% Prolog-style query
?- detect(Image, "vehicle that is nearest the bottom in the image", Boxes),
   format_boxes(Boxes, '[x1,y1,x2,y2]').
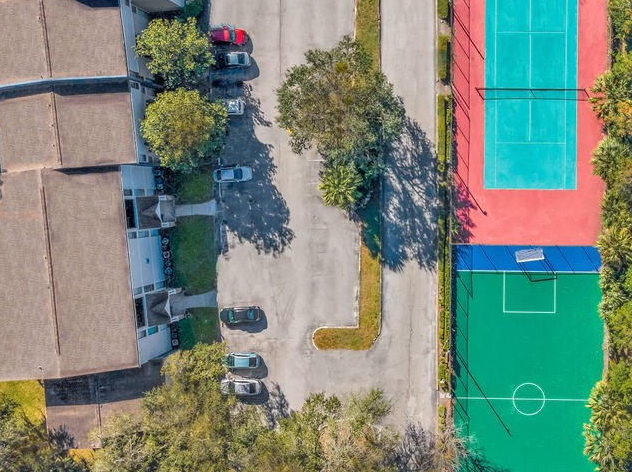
[221,377,264,397]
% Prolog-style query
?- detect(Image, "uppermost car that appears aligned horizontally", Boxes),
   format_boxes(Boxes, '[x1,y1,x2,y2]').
[210,26,250,46]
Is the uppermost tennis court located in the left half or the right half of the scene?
right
